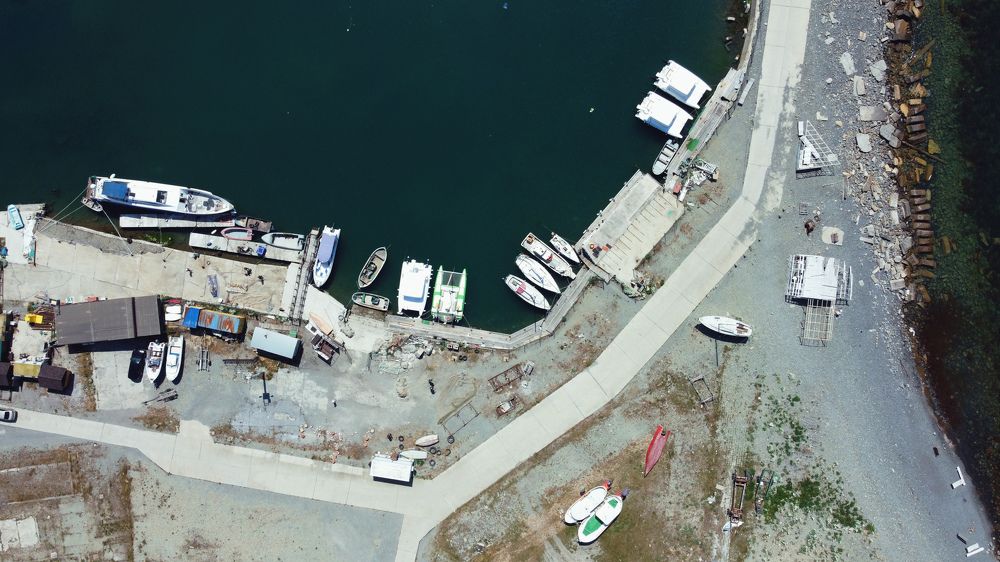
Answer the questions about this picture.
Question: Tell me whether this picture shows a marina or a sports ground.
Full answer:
This image shows a marina.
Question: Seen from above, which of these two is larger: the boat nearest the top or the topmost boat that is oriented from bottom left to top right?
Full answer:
Of the two, the boat nearest the top is larger and the topmost boat that is oriented from bottom left to top right is the smaller one.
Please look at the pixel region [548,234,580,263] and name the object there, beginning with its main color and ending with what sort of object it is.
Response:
white boat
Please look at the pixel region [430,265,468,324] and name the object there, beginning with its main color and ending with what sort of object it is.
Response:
white boat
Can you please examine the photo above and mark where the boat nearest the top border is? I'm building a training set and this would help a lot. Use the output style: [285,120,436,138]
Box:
[652,64,708,108]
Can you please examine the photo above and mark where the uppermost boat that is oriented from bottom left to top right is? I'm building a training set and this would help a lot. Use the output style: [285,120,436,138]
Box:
[654,138,681,174]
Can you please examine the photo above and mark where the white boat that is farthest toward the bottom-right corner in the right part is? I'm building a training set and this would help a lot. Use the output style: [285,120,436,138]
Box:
[697,313,755,336]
